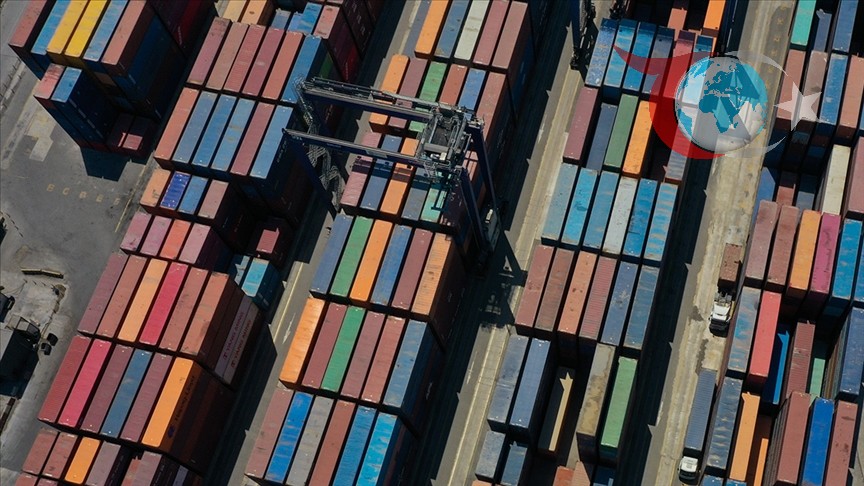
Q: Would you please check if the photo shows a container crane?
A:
Yes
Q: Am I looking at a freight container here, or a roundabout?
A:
freight container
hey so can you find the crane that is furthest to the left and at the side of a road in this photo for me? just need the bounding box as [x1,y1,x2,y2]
[268,78,507,269]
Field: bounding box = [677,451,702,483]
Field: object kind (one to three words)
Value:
truck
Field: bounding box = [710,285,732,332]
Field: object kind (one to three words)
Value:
truck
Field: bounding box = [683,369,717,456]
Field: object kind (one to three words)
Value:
shipping container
